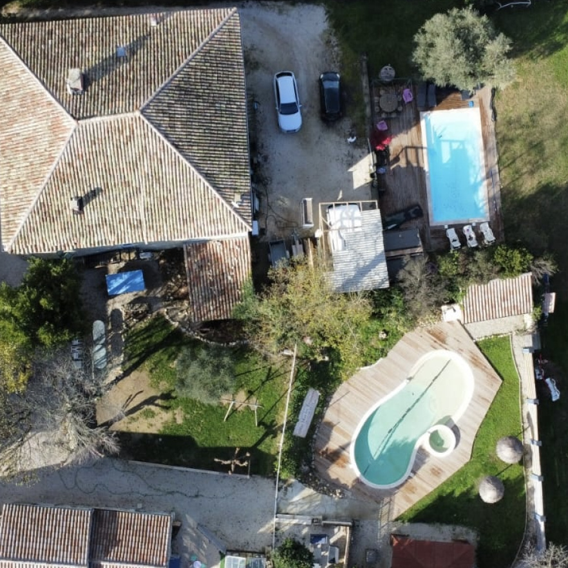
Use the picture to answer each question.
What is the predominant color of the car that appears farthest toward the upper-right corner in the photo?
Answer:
black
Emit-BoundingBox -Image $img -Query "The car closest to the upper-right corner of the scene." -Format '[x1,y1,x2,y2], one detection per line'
[317,71,344,123]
